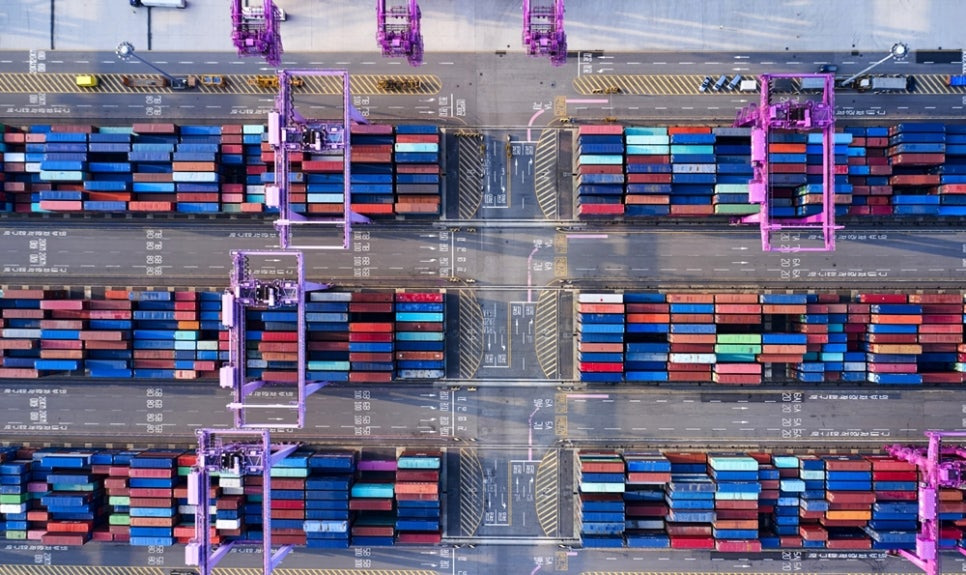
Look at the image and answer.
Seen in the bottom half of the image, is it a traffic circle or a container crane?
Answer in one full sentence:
You can see a container crane in the bottom half of the image.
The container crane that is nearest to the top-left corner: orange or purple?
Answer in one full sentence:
The container crane that is nearest to the top-left corner is purple.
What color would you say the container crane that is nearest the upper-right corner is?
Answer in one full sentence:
In this view, the container crane that is nearest the upper-right corner is purple.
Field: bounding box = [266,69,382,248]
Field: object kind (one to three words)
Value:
container crane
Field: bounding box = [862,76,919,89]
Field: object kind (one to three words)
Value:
vehicle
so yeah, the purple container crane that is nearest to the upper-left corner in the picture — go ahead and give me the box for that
[232,0,286,71]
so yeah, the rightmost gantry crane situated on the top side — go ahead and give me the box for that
[729,73,841,250]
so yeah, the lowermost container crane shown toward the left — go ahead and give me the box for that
[185,427,310,575]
